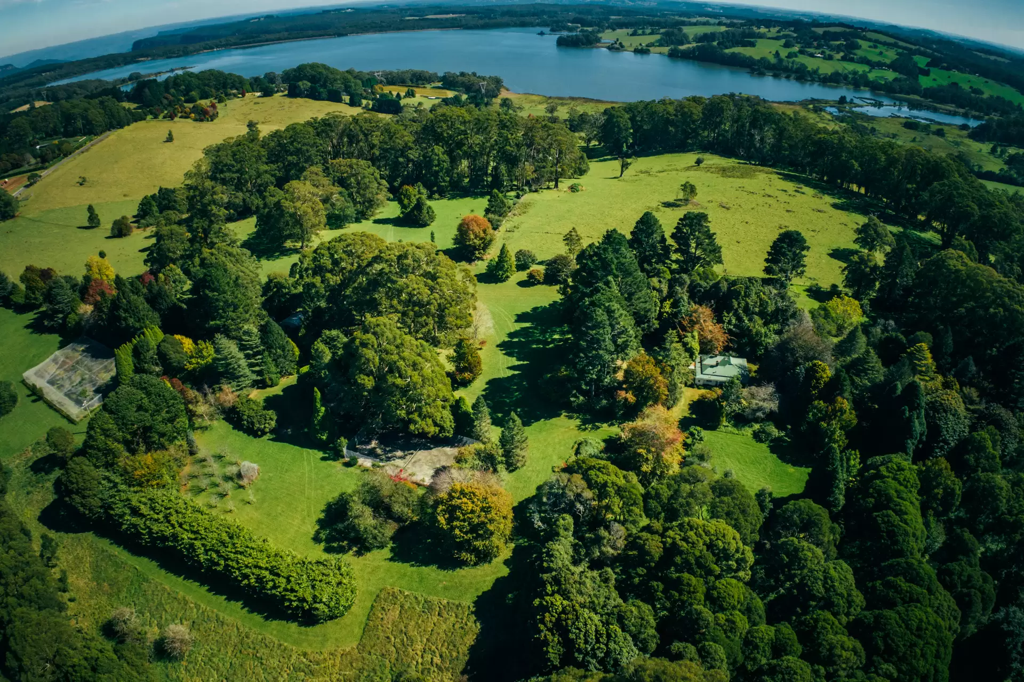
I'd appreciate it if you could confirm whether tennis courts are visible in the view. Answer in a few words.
Yes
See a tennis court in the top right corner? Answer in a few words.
No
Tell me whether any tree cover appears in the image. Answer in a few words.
Yes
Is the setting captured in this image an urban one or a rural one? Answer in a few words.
rural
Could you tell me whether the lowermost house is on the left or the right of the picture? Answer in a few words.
right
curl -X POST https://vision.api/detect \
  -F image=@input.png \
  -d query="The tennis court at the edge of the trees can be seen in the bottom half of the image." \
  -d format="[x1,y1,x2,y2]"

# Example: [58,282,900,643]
[345,421,475,488]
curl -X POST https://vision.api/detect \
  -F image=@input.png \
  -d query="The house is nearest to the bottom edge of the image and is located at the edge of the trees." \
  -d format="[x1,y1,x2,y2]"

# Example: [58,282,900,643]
[687,347,749,388]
